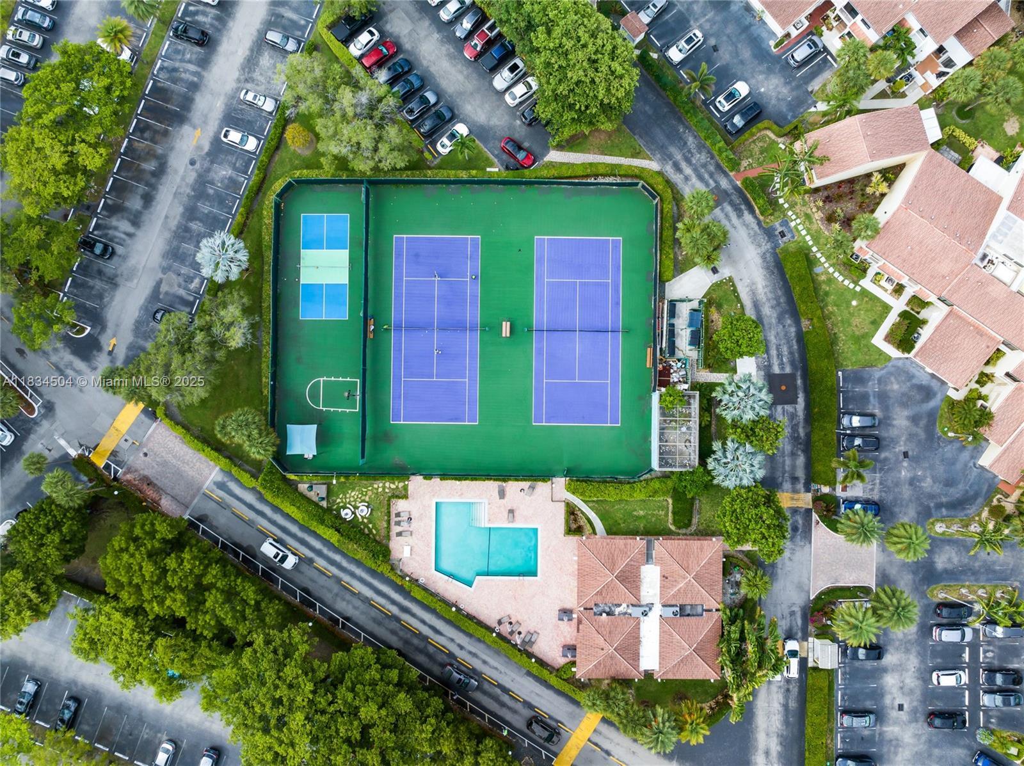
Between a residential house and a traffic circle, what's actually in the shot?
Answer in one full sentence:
This aerial view contains a residential house.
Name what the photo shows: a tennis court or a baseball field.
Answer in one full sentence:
The one in the frame is a tennis court.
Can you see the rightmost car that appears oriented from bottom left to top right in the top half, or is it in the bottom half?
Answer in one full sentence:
It is in the top half that the rightmost car that appears oriented from bottom left to top right appears.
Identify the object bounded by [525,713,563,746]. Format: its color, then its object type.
gray car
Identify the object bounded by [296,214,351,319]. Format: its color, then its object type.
blue sports court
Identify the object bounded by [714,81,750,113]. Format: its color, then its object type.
white car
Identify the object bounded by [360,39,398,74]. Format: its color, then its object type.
red car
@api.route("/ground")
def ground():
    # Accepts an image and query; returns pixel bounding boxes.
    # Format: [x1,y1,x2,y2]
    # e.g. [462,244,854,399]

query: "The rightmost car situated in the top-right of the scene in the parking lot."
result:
[785,34,826,69]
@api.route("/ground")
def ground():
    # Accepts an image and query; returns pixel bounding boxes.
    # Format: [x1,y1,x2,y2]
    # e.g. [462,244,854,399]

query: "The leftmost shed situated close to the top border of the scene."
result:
[619,11,648,46]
